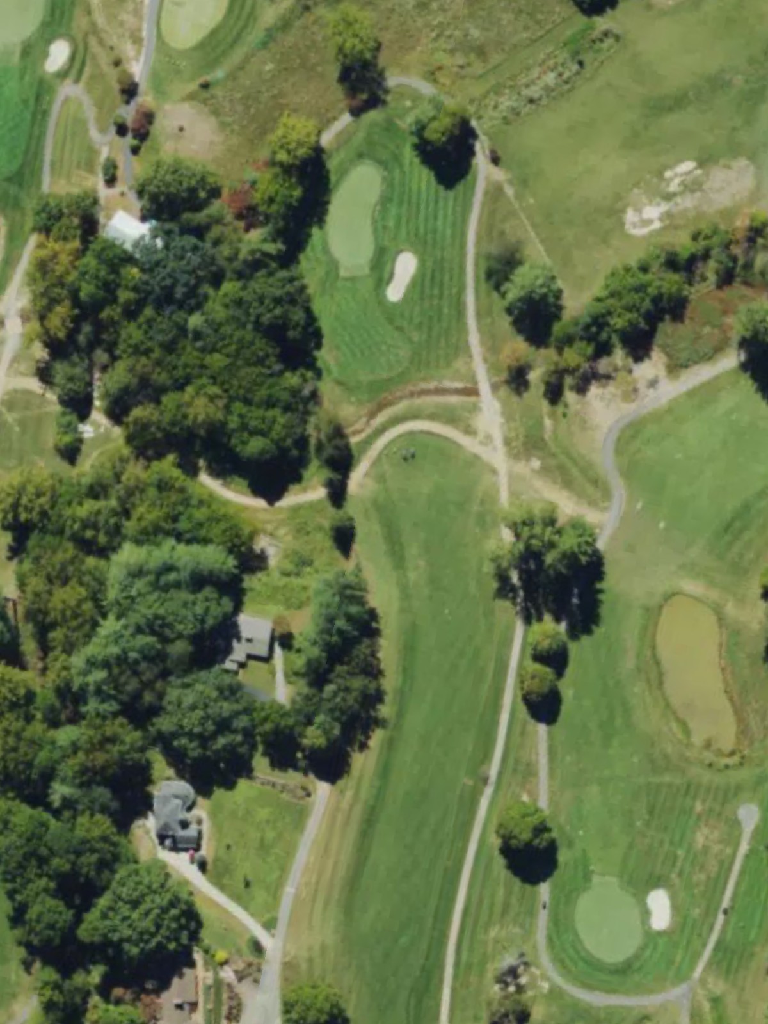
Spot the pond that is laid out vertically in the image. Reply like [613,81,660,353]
[656,594,736,751]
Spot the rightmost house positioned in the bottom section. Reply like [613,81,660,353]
[223,614,275,670]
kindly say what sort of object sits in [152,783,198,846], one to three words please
house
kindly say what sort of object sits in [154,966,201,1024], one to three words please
house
